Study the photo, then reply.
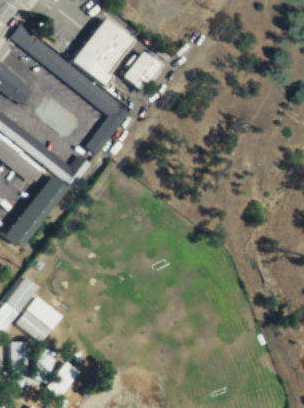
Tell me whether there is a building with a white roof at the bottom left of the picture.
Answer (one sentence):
Yes, you'll find a building with a white roof at the bottom left of the picture.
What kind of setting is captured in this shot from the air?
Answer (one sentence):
This image shows a sports ground.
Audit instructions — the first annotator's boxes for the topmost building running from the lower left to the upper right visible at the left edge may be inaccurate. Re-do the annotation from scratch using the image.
[0,176,68,246]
